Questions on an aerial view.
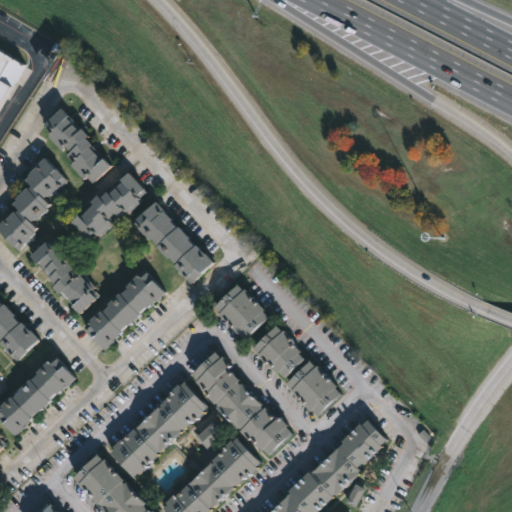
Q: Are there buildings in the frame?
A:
Yes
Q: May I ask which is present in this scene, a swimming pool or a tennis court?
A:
swimming pool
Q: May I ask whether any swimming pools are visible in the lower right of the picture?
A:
No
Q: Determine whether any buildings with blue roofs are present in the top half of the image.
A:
No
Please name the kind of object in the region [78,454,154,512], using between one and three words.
building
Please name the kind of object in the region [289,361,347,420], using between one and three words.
building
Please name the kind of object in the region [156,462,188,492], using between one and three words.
swimming pool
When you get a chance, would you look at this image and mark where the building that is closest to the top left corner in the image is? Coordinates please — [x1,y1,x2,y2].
[0,50,30,108]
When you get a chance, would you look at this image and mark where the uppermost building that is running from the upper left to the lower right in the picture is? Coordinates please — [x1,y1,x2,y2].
[48,110,115,184]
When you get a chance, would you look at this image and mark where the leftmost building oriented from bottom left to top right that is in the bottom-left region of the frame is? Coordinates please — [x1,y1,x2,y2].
[0,358,78,436]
